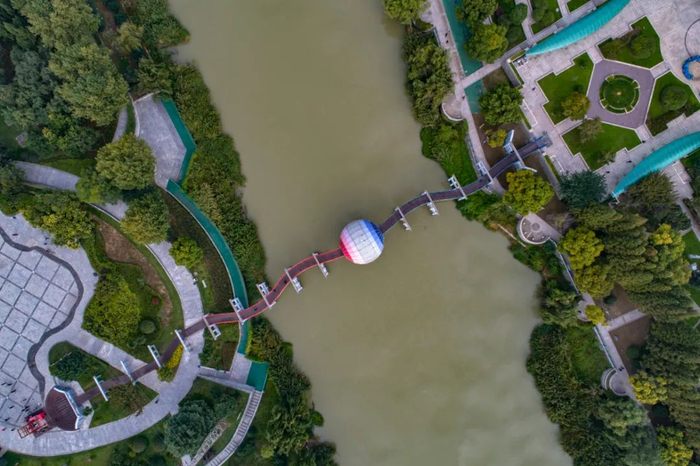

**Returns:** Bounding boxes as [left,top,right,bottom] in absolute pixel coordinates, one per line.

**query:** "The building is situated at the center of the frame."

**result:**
[340,220,384,264]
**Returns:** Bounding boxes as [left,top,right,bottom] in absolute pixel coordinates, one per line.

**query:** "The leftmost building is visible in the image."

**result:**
[44,387,81,432]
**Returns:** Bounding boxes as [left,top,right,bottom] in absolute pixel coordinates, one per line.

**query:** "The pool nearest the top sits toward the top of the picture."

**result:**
[443,0,484,76]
